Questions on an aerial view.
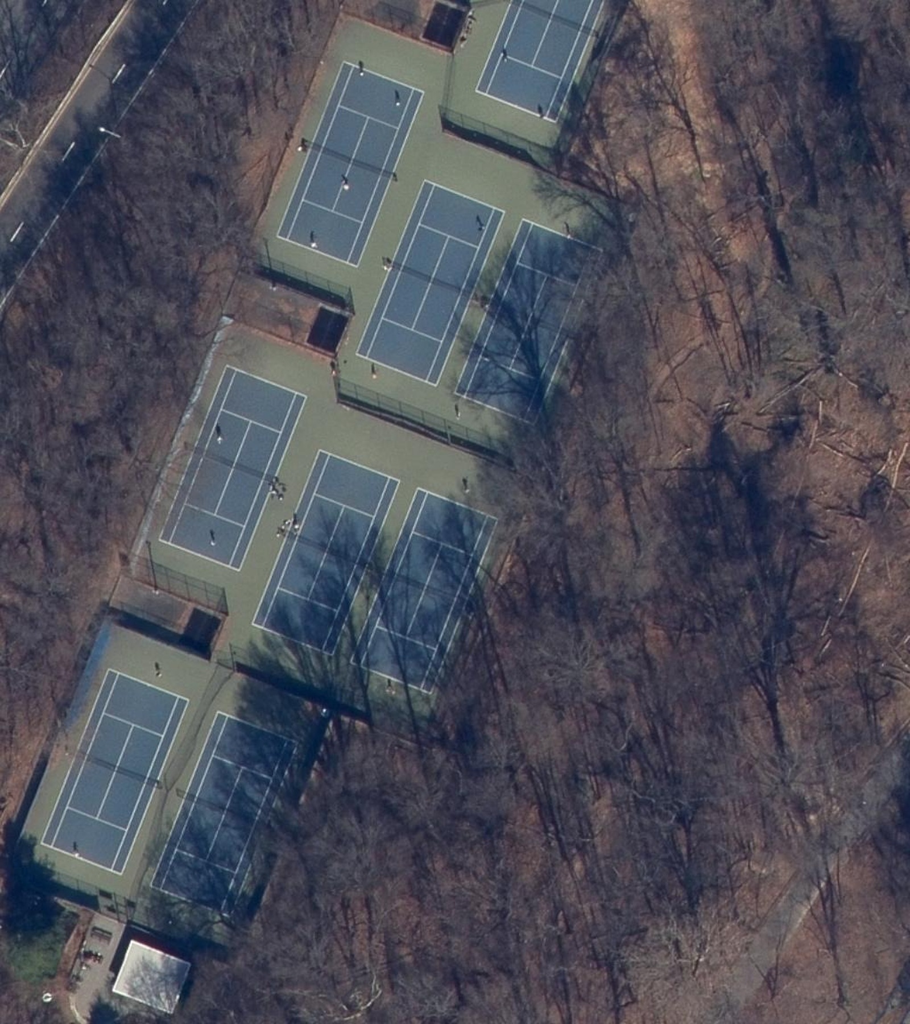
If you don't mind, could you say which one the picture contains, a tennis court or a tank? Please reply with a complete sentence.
I can see a tennis court in this picture.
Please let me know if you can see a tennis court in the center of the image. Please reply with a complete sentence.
Yes, the scene does show a tennis court in the center of the image.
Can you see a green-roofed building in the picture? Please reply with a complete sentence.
No, I find no green-roofed building anywhere in the image.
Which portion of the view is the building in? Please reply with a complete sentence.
Look in the bottom left portion of the view to spot the building.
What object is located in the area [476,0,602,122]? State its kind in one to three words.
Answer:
tennis court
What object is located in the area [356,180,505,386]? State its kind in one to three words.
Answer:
tennis court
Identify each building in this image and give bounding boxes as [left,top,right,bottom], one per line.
[112,941,189,1014]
